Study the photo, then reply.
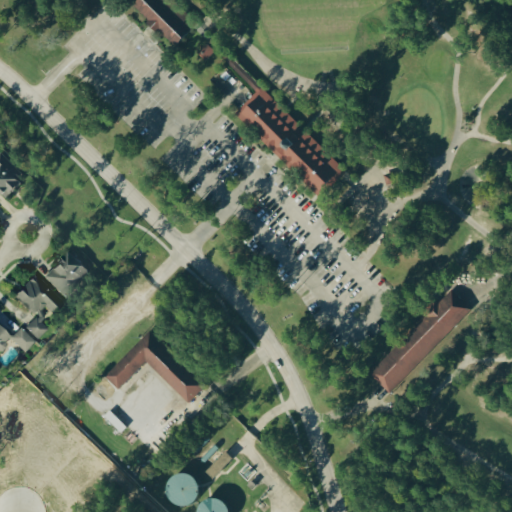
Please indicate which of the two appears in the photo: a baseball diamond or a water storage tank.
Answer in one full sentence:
The one in the frame is a water storage tank.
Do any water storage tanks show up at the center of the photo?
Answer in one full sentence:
No, there is no water storage tank at the center of the photo.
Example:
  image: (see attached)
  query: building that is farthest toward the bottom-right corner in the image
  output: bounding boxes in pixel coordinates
[377,295,467,388]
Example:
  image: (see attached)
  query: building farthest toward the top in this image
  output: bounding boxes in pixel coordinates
[128,0,188,45]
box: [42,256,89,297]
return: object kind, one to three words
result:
house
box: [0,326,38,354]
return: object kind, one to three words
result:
house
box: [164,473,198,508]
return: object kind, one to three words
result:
water tank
